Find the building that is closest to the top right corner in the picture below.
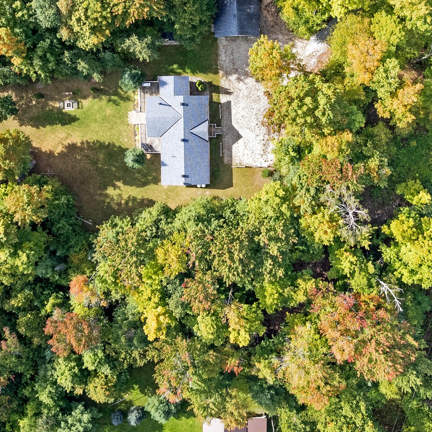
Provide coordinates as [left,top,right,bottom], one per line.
[215,0,259,38]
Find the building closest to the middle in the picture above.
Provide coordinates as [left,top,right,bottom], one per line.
[129,75,221,185]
